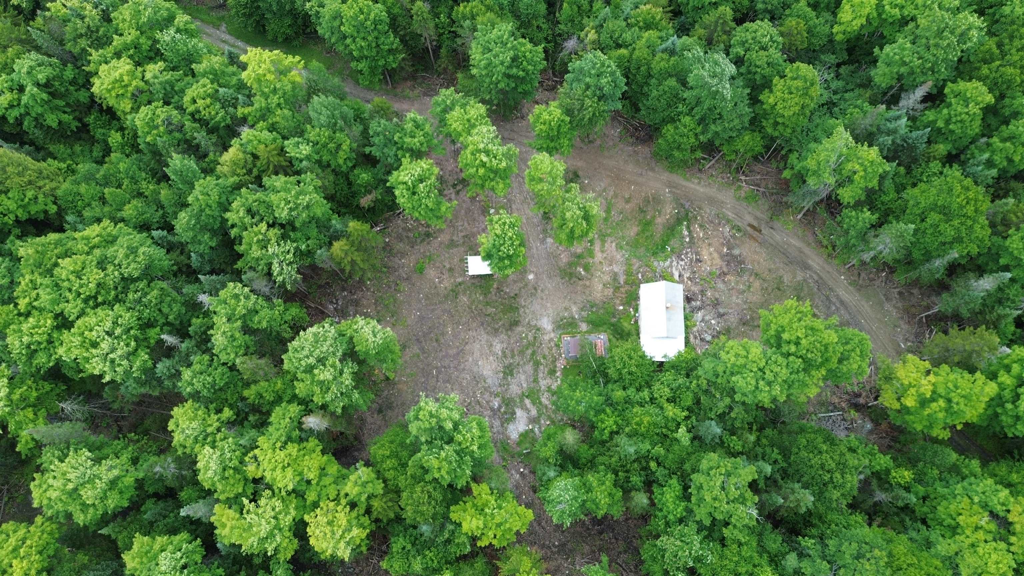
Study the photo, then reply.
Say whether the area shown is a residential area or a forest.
forest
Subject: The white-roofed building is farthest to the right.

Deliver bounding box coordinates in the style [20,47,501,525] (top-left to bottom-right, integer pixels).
[638,281,685,363]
